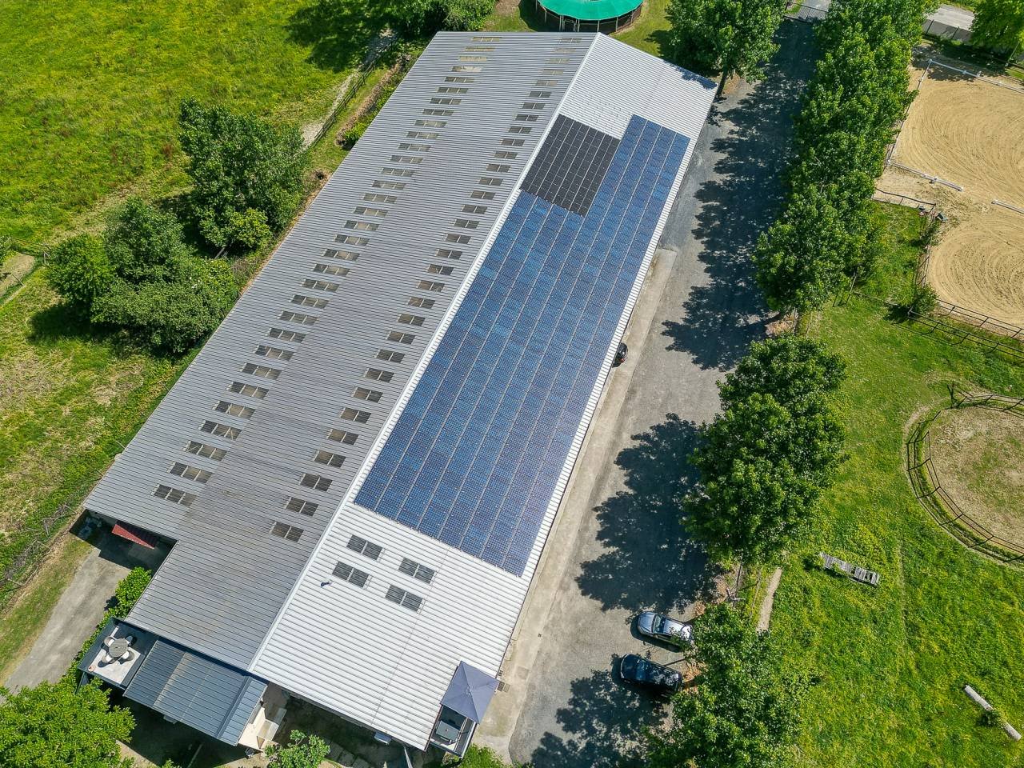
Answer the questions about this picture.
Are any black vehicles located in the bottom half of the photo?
Yes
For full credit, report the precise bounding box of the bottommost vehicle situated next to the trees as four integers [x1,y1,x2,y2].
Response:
[618,661,686,703]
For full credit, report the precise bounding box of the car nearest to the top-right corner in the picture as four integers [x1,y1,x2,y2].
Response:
[616,347,635,369]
